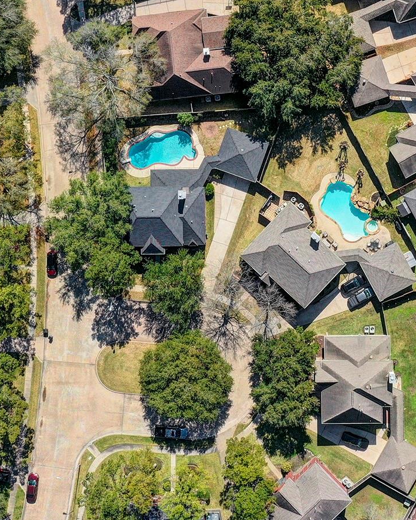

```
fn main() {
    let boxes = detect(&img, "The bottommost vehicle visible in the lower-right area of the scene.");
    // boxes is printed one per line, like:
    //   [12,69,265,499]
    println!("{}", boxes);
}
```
[338,430,371,450]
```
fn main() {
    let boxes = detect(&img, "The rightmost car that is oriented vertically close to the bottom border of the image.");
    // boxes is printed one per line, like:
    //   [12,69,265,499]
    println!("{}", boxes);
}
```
[24,470,40,504]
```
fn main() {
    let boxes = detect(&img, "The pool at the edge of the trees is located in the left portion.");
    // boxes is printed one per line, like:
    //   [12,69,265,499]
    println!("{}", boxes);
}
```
[127,128,199,171]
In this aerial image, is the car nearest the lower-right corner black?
Yes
